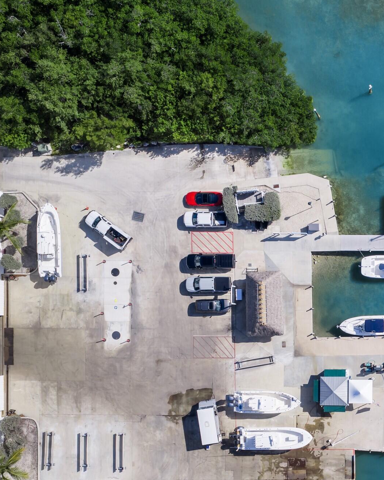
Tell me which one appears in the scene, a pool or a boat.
boat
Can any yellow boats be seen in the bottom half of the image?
No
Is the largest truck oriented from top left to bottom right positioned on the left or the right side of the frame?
left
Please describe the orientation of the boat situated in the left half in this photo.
from top to bottom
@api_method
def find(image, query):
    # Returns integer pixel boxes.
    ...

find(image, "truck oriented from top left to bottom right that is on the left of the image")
[83,209,136,252]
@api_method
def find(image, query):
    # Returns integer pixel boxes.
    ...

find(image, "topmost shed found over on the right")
[245,270,284,337]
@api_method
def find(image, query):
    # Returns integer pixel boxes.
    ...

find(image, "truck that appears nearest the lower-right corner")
[199,395,226,446]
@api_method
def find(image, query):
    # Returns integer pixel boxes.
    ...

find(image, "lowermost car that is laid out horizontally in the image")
[195,297,232,314]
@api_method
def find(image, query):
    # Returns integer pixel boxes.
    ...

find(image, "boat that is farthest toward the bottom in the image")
[230,426,313,451]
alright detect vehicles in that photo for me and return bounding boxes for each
[186,251,237,270]
[185,189,223,209]
[184,209,230,228]
[186,275,233,294]
[195,297,232,314]
[83,209,136,252]
[199,395,226,446]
